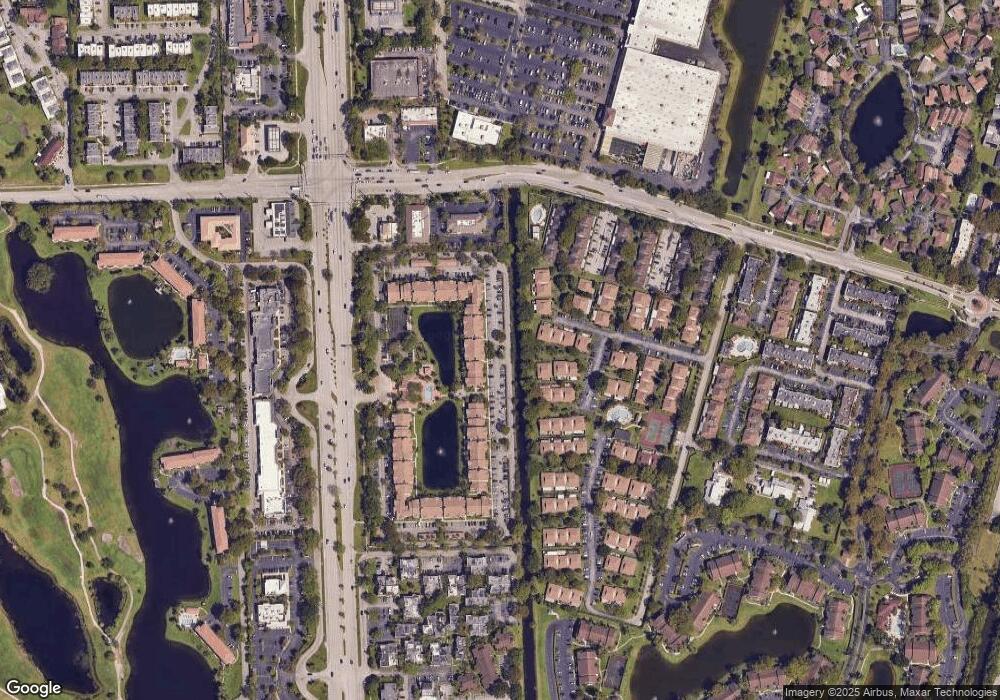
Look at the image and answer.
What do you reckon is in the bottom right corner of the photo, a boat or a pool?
pool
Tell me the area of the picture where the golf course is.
left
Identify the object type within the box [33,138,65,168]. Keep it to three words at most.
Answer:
building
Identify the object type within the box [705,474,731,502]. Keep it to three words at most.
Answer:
house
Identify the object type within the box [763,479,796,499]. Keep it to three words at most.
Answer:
building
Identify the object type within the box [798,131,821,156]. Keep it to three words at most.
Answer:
house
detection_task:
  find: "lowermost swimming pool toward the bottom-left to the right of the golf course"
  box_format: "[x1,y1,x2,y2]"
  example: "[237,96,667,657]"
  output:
[179,613,199,627]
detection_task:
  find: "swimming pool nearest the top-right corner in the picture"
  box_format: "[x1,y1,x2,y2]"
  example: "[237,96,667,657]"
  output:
[730,336,756,358]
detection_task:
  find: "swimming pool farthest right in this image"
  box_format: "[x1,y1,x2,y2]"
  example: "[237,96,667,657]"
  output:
[888,605,907,640]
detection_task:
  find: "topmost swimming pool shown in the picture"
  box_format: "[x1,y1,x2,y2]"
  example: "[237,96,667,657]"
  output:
[528,204,546,225]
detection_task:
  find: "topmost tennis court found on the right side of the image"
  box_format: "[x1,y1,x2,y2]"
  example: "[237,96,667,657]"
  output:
[640,409,675,450]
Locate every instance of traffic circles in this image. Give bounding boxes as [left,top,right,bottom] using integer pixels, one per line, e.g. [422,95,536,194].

[951,286,1000,322]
